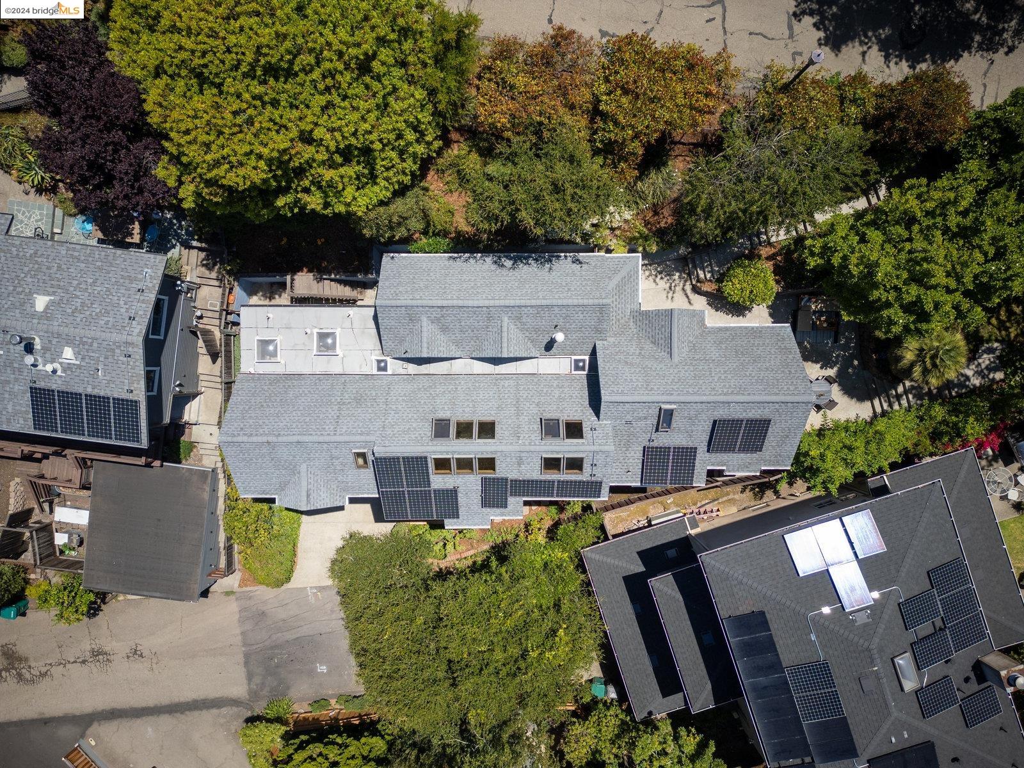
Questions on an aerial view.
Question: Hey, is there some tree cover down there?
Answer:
Yes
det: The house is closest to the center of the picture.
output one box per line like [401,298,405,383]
[219,252,813,529]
